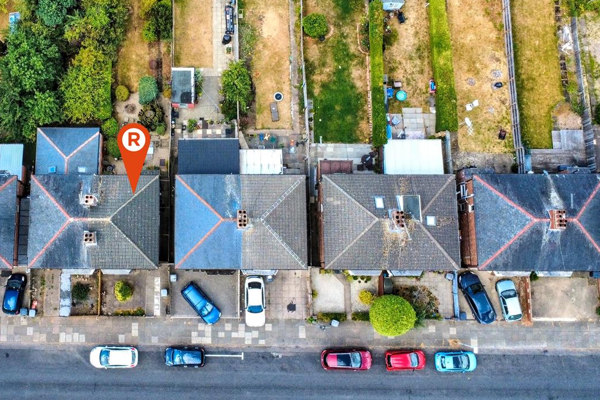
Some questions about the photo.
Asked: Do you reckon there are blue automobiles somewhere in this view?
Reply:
Yes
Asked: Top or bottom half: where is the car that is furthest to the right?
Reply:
bottom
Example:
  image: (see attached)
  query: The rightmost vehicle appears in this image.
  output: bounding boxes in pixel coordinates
[493,278,523,323]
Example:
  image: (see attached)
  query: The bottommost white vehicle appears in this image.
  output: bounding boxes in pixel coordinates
[90,344,139,370]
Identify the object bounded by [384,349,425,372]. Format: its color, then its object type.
red car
